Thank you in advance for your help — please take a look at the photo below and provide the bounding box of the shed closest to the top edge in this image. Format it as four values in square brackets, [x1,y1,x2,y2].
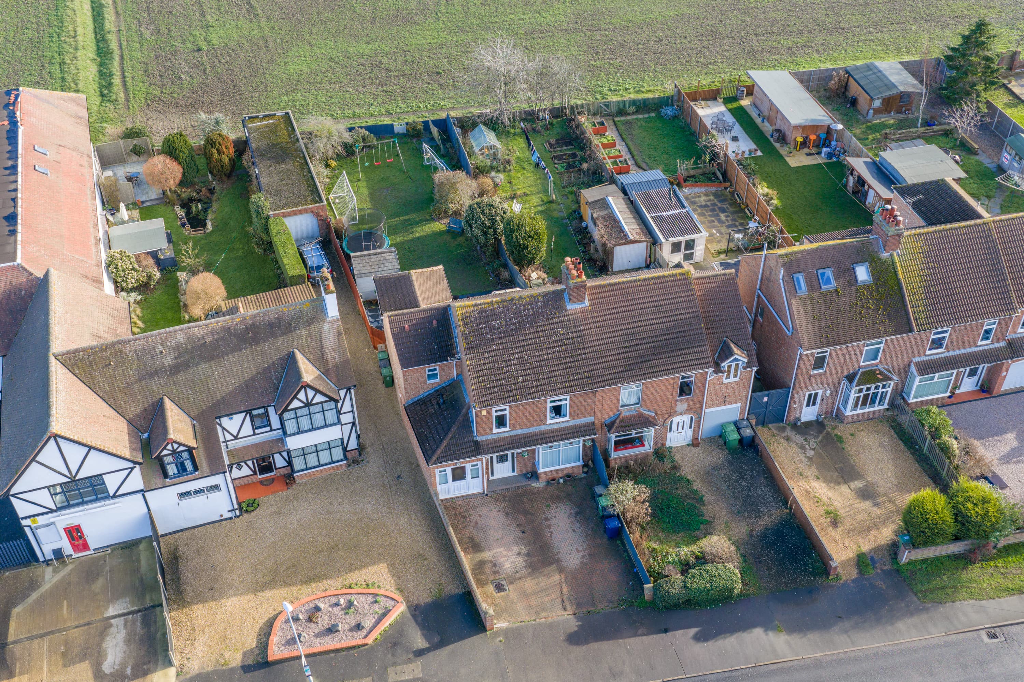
[839,59,927,123]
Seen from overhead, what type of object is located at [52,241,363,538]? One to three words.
house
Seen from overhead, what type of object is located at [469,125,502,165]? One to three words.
greenhouse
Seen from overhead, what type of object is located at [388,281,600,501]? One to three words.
house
